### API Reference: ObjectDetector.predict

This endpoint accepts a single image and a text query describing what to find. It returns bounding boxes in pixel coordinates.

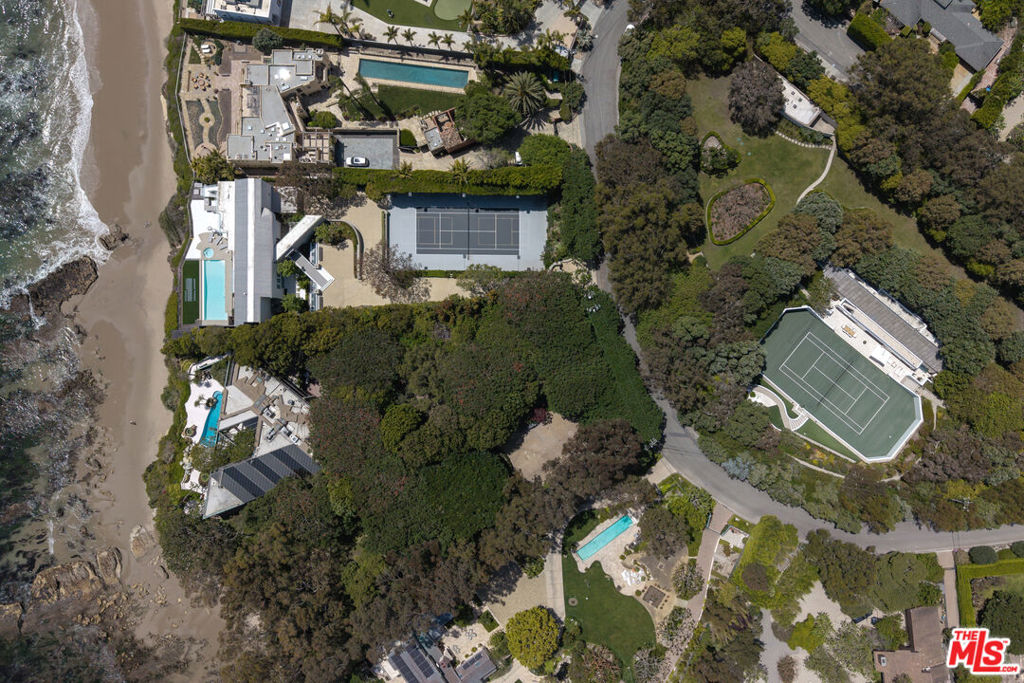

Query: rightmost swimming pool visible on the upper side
[357,57,470,90]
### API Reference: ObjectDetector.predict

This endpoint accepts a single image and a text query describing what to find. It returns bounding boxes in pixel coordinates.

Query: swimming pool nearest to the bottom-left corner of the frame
[199,390,223,448]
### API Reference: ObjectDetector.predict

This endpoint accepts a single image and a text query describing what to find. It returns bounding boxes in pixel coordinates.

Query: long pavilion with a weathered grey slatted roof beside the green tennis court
[822,266,939,385]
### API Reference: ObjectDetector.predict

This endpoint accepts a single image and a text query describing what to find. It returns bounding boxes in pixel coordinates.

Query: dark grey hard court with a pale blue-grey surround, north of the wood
[388,195,548,271]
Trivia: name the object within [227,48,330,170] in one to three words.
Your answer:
house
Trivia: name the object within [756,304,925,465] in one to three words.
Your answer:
tennis court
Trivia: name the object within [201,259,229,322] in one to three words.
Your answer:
swimming pool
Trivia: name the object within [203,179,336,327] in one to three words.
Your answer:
house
